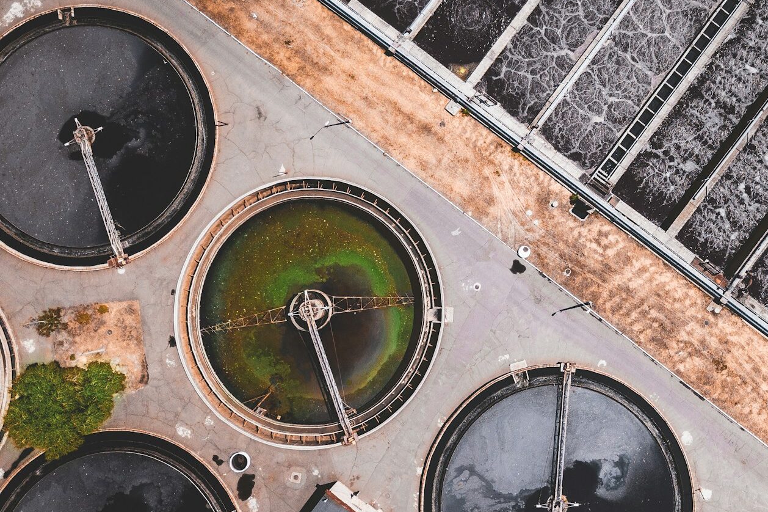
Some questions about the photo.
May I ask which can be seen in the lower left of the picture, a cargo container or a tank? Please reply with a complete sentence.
What appears in the lower left of the picture is a tank.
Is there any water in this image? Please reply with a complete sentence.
Yes, water shows up in the scene.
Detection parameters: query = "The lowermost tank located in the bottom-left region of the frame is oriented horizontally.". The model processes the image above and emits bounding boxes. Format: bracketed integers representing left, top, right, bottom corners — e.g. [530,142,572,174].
[0,427,242,512]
